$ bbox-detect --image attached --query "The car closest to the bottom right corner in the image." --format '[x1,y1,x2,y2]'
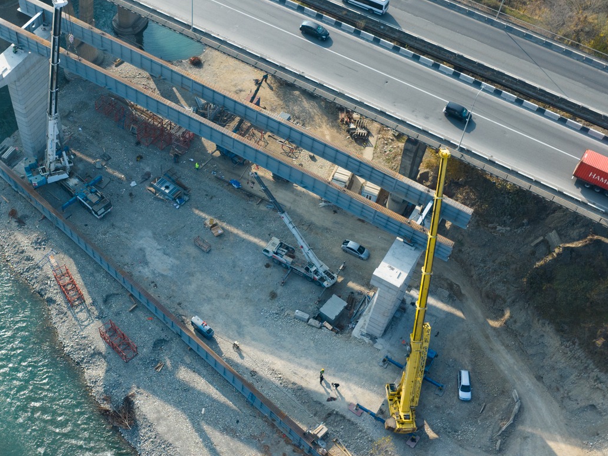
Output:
[457,368,476,400]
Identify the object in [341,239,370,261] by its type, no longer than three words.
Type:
car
